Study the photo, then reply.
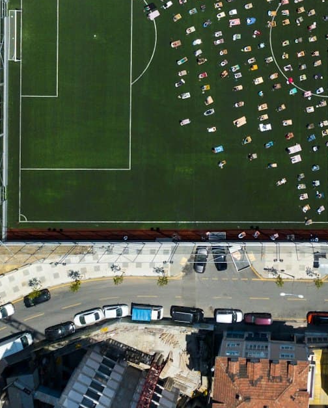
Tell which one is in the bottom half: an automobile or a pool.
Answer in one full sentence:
You can see an automobile in the bottom half.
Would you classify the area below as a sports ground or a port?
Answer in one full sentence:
This image shows a sports ground.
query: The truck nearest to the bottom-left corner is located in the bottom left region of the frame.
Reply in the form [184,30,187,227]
[0,330,37,362]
